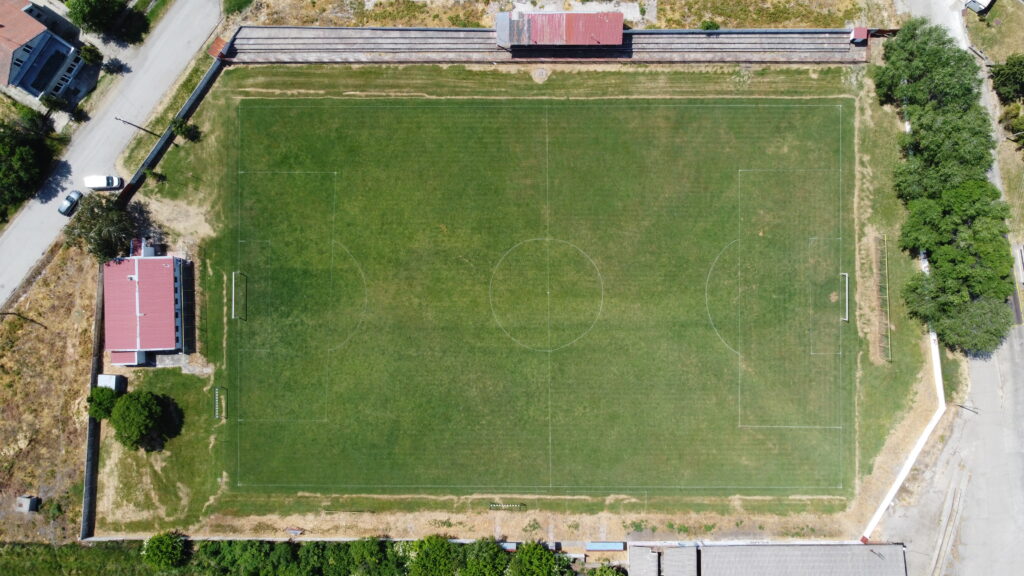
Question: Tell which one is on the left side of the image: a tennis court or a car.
car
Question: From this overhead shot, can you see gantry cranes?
No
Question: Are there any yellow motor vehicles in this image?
No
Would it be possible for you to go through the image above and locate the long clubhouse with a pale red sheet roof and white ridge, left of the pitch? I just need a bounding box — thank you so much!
[104,239,183,362]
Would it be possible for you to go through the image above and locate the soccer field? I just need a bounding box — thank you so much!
[229,98,857,497]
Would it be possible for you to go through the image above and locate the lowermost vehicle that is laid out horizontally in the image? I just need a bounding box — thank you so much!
[80,174,120,189]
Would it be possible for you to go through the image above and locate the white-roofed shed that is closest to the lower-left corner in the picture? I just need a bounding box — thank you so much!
[98,372,124,390]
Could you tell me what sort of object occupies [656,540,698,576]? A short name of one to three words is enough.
building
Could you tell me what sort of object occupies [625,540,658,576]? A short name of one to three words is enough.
building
